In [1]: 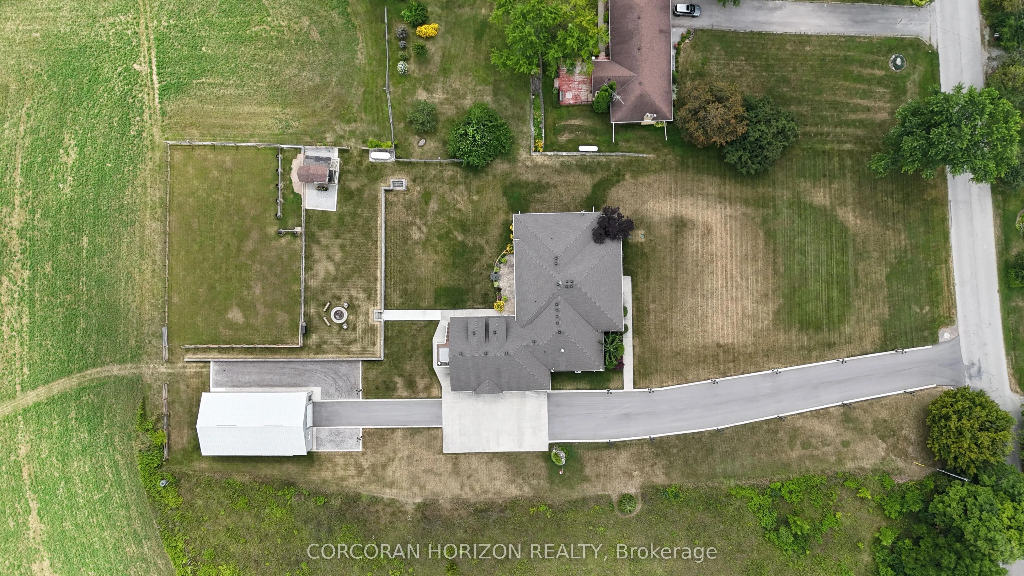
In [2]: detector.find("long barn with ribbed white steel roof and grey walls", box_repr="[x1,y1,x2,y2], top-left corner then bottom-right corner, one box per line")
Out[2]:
[198,390,314,457]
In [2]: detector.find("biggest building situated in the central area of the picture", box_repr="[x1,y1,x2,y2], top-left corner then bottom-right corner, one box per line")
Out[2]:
[448,207,624,395]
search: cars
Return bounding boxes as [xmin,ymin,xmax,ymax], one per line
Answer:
[672,3,701,18]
